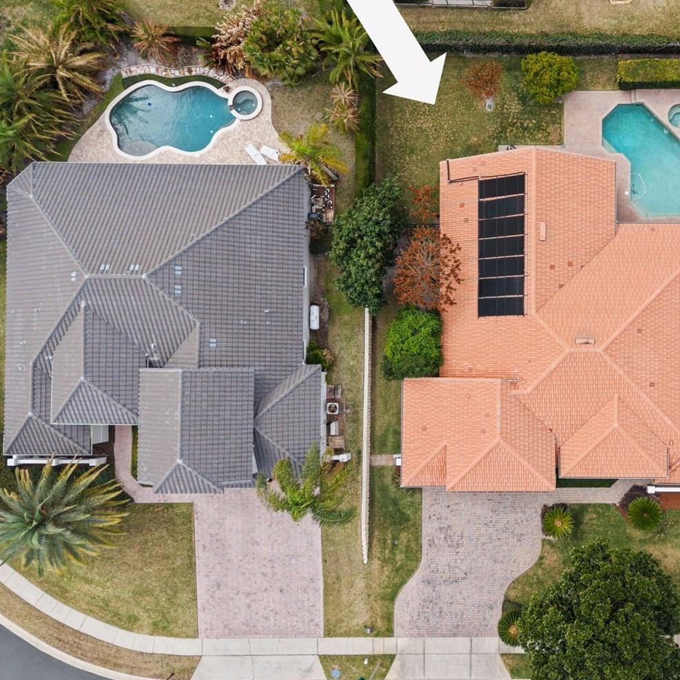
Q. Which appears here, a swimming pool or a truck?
swimming pool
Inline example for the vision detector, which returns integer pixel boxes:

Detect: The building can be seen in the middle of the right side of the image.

[398,146,680,494]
